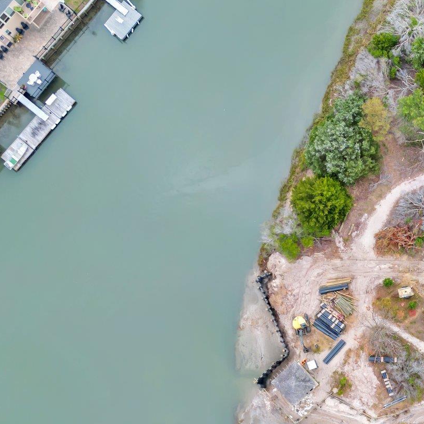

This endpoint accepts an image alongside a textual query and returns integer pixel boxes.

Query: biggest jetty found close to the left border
[1,89,76,171]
